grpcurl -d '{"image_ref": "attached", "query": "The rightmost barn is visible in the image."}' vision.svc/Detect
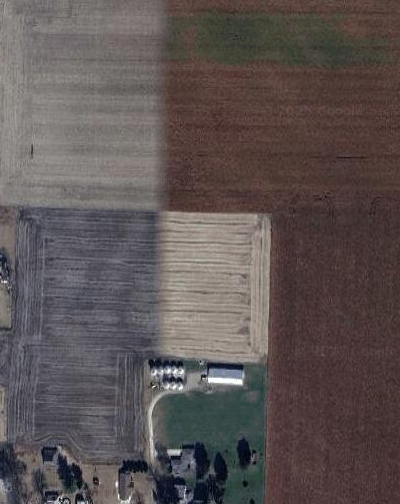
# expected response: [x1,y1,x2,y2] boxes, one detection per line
[208,366,244,385]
